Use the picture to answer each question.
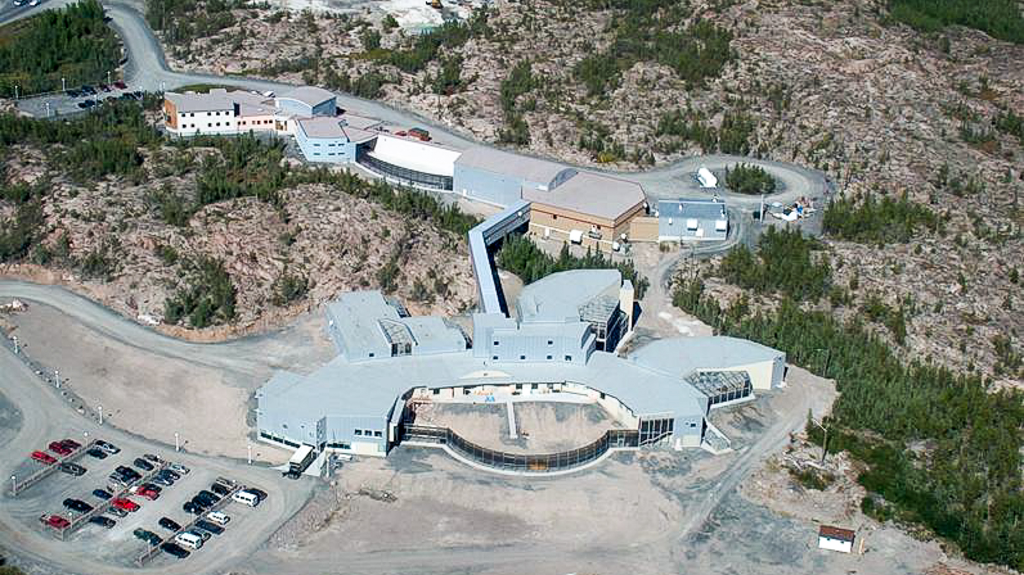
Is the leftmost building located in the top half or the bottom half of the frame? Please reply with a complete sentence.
You can find the leftmost building in the top half.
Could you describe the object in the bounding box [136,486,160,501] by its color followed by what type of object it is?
red car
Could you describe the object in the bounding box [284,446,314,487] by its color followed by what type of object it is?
white truck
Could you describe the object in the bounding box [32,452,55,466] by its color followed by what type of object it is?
red car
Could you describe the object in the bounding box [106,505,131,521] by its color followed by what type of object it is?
gray car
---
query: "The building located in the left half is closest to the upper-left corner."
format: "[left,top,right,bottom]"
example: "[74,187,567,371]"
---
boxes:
[164,89,235,136]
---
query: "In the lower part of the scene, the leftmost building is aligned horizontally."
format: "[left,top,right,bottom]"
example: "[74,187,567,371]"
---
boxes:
[254,269,786,460]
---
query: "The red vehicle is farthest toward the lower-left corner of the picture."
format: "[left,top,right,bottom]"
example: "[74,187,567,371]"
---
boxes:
[44,516,69,531]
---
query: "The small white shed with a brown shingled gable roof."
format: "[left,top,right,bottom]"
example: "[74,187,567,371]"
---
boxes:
[819,524,854,553]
